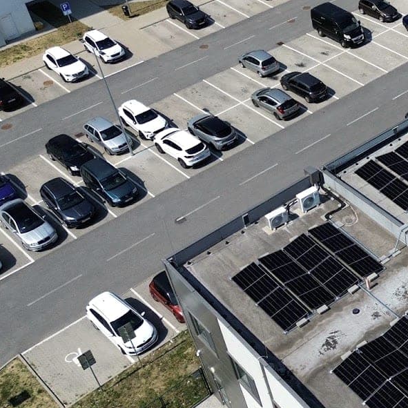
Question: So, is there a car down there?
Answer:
Yes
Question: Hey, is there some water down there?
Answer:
No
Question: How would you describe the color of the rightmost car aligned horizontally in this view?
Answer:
black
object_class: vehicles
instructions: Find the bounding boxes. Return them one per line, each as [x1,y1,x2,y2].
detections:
[78,112,135,157]
[280,71,330,104]
[80,26,127,62]
[154,127,212,168]
[185,112,242,151]
[78,155,139,205]
[235,47,284,80]
[146,269,189,328]
[355,0,400,22]
[41,44,90,82]
[165,0,209,28]
[307,0,365,44]
[249,87,302,121]
[113,96,169,139]
[43,128,96,175]
[0,173,21,207]
[83,287,161,357]
[0,198,58,251]
[35,173,95,226]
[0,79,24,112]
